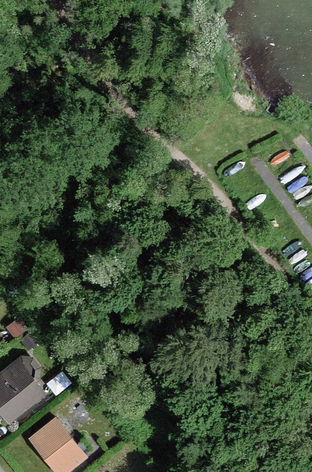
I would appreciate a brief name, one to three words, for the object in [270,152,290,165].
boat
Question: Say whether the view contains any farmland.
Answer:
No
